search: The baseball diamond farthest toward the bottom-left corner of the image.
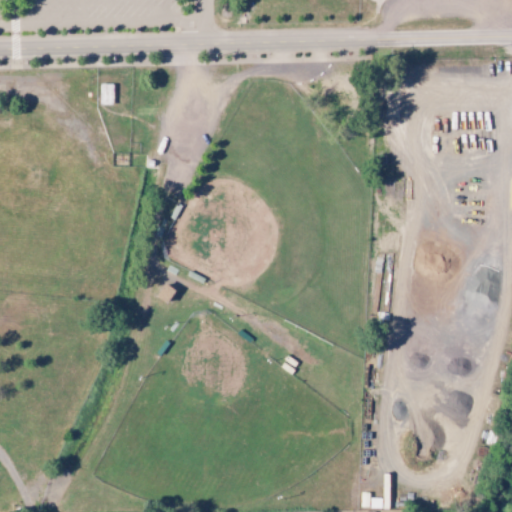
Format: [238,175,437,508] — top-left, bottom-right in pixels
[97,310,352,507]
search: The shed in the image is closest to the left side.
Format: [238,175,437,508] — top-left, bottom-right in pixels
[100,82,114,105]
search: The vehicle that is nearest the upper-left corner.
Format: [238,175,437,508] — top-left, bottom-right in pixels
[156,137,170,155]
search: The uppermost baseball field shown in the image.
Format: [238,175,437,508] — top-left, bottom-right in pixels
[168,78,371,357]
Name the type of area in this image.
sports ground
